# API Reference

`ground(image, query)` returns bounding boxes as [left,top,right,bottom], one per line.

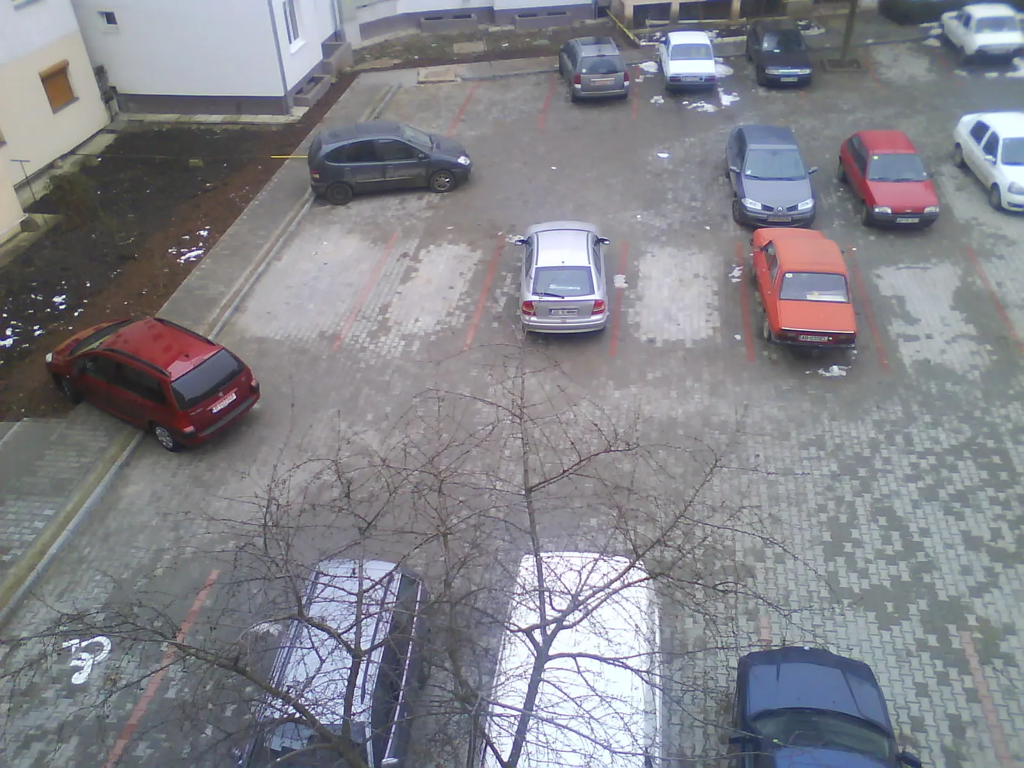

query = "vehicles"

[555,32,627,101]
[655,30,718,88]
[312,125,465,205]
[936,5,1024,60]
[49,318,263,455]
[748,22,817,85]
[952,118,1024,209]
[720,126,816,226]
[838,135,942,227]
[746,227,861,351]
[727,650,922,768]
[519,222,612,331]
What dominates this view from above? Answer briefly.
paved ground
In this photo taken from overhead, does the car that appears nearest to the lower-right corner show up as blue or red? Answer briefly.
blue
